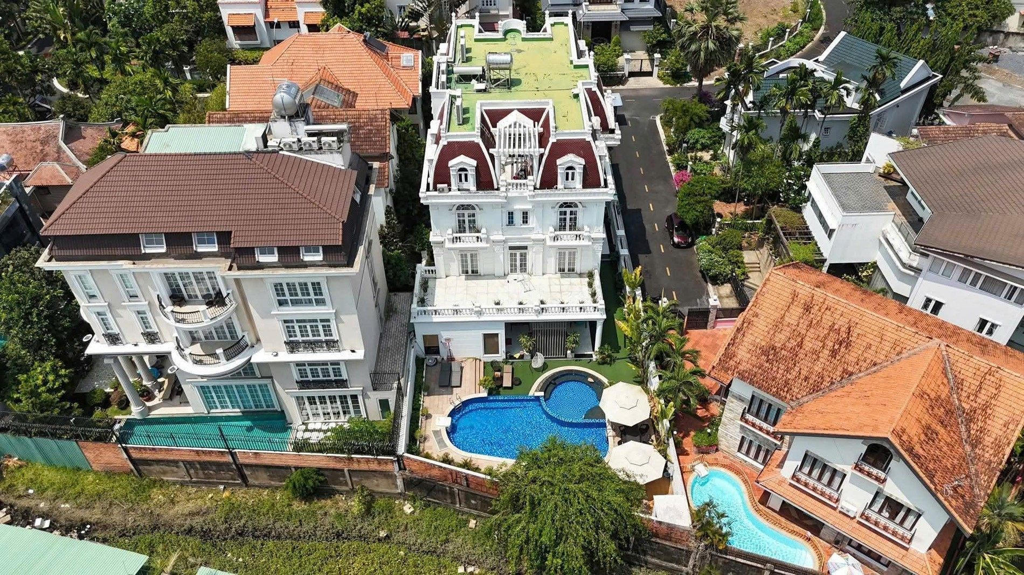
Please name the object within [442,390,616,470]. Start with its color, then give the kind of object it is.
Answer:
blue swimming pool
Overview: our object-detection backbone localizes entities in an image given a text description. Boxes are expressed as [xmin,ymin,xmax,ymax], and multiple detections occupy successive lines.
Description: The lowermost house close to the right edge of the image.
[697,266,1024,575]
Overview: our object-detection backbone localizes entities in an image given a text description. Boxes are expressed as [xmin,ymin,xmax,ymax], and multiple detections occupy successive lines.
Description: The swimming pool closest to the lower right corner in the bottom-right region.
[685,462,820,575]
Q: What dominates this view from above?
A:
buildings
